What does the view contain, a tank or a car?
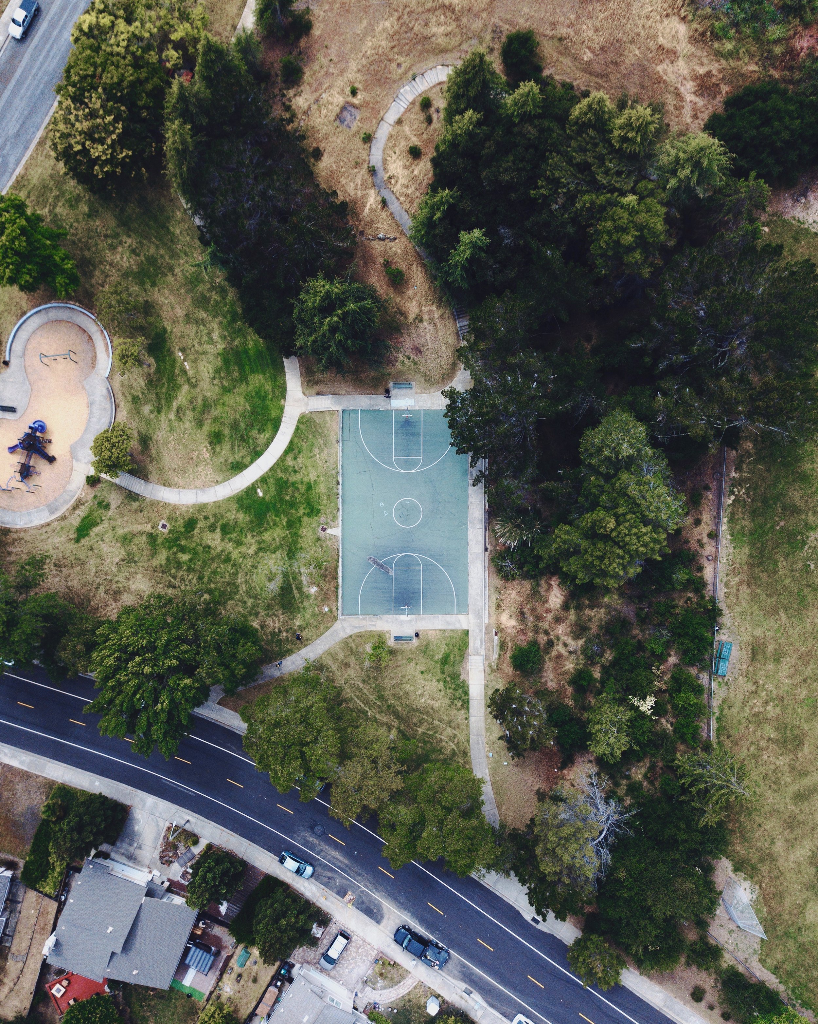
car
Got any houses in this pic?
Yes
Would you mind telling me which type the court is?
basketball court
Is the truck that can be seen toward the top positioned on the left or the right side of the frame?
left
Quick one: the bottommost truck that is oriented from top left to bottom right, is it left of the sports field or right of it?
on the left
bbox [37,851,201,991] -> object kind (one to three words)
house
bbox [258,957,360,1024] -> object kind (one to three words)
house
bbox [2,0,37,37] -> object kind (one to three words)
truck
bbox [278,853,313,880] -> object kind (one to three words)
car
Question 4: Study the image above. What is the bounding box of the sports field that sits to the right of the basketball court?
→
[718,224,818,1009]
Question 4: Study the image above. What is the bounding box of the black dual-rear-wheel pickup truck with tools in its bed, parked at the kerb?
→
[397,928,448,973]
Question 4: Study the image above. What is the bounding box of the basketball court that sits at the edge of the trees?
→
[342,410,469,615]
